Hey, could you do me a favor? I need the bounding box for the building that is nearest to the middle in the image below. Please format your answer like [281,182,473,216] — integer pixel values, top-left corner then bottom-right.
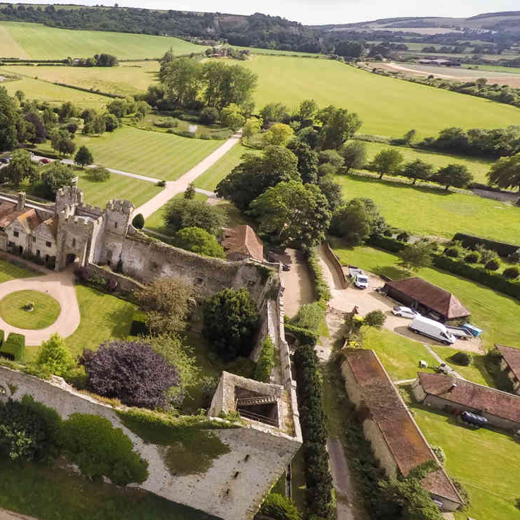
[215,216,261,260]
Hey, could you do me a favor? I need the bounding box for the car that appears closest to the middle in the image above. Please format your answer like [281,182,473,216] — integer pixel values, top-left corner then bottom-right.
[283,259,297,272]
